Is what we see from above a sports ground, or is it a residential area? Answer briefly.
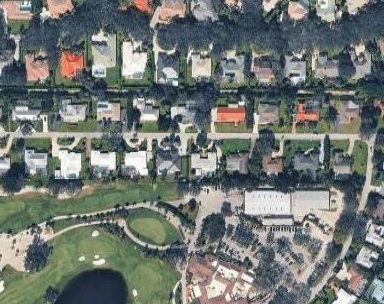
residential area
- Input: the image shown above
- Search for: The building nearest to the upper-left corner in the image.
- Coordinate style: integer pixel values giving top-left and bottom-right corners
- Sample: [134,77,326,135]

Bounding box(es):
[0,0,35,18]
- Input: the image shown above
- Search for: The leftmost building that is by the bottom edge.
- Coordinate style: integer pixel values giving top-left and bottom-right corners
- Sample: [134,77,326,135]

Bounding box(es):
[185,251,263,304]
